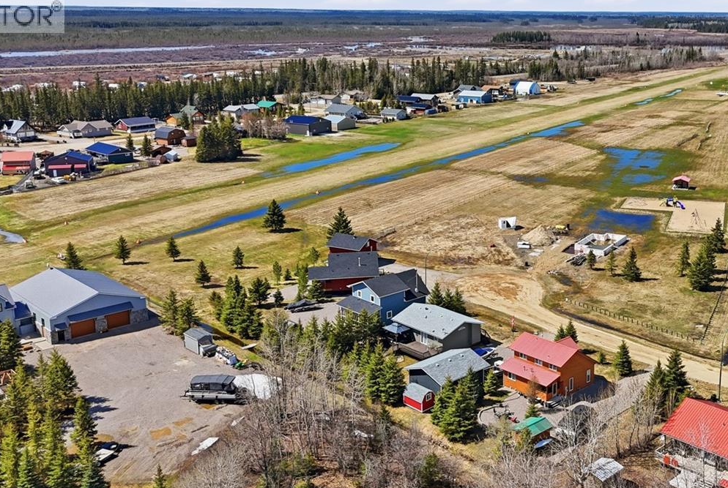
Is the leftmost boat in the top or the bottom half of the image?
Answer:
bottom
